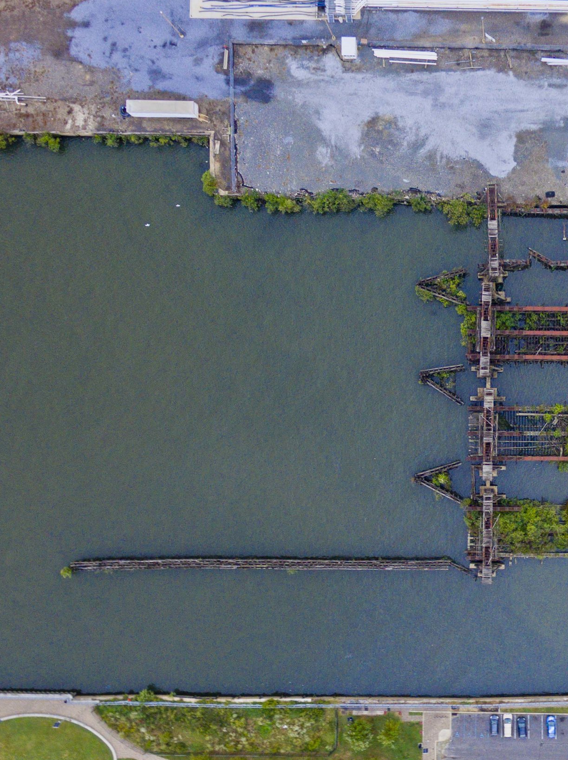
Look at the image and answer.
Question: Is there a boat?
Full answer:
No, I can see no boat in this picture.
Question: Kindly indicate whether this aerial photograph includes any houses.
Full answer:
No, I find no house anywhere in the image.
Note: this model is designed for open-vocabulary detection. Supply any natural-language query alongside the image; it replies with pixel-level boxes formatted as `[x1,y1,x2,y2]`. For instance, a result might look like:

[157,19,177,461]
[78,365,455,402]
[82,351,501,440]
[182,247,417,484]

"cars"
[546,715,557,738]
[502,713,512,738]
[517,716,527,740]
[490,715,500,736]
